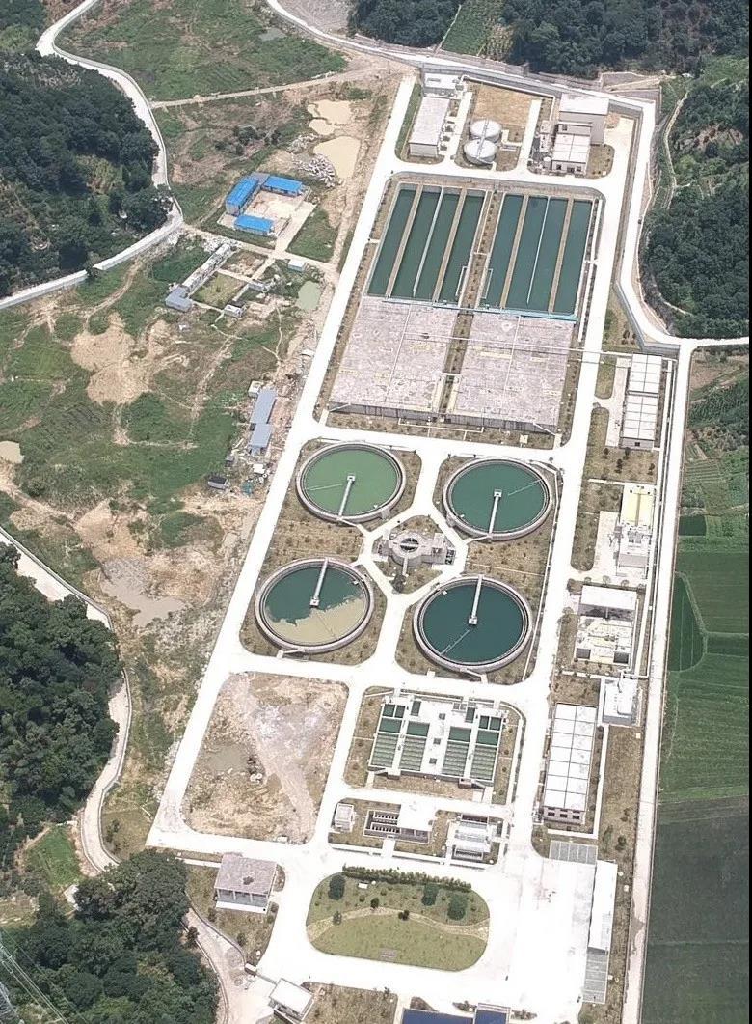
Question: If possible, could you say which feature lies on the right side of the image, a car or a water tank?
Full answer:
You can see a water tank on the right side of the image.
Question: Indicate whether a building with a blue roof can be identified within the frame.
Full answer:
Yes, a building with a blue roof is visible in the scene.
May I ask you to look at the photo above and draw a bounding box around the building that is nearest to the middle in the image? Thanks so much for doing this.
[372,527,474,576]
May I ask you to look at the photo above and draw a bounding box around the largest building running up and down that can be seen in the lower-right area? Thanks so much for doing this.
[544,702,597,821]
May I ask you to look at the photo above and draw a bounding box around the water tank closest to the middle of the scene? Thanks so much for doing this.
[296,441,406,531]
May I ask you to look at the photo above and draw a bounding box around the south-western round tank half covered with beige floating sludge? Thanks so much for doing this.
[256,557,374,655]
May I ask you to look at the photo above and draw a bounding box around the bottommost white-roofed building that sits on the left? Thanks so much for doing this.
[268,977,313,1019]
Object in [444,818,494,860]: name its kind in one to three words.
building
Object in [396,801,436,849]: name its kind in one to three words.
house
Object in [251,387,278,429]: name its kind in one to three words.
shed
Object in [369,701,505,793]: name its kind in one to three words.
building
